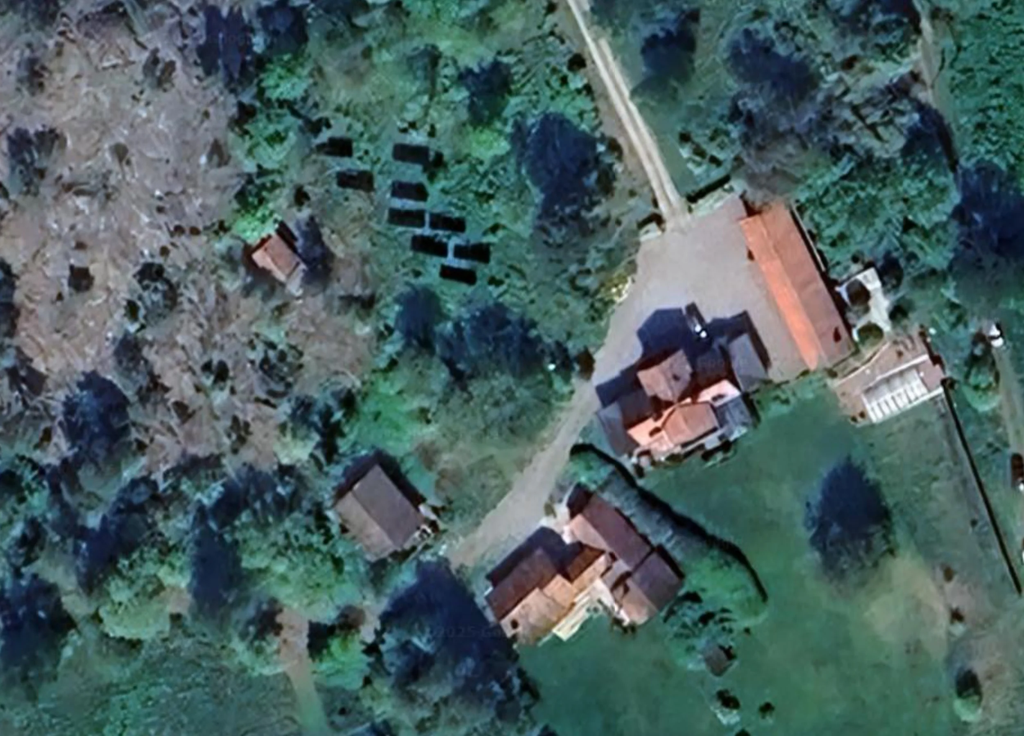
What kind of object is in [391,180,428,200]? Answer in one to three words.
solar array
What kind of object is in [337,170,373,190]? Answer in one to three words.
solar array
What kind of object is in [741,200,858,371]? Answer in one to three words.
barn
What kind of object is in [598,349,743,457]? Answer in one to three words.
house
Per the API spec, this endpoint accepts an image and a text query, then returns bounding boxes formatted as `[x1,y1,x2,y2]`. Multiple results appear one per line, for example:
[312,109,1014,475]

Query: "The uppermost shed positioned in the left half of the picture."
[252,234,301,282]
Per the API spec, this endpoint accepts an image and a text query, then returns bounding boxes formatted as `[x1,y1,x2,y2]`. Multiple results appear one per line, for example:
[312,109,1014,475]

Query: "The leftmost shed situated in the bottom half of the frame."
[333,464,424,563]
